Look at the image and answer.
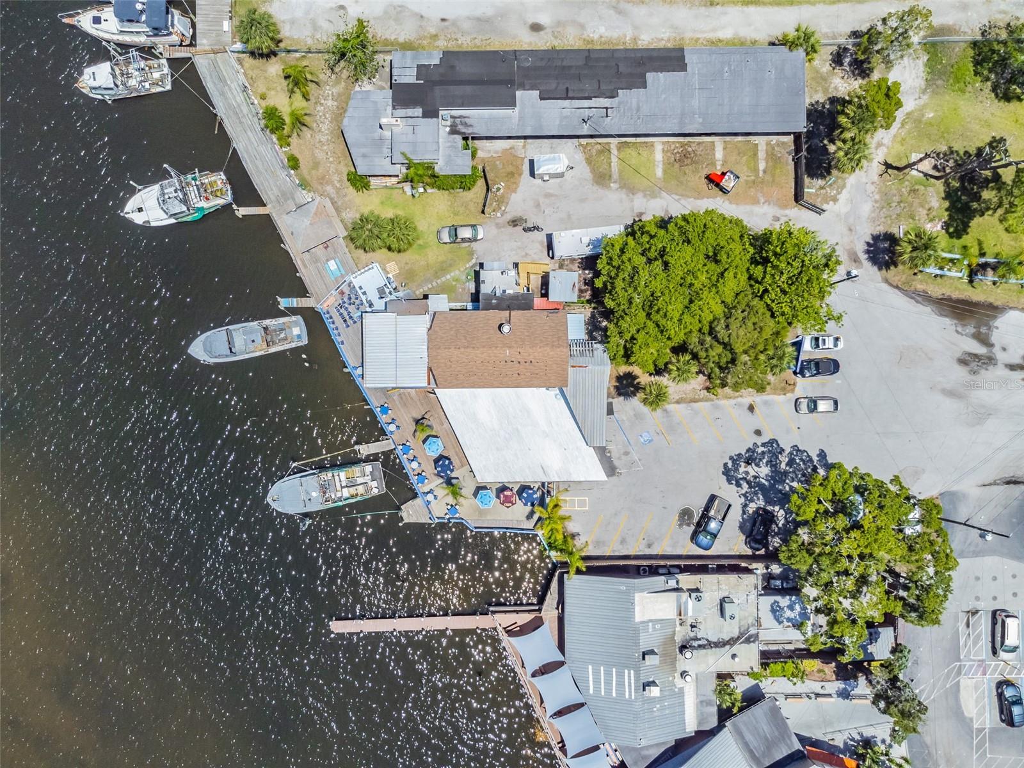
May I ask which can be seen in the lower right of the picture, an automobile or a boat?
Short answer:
automobile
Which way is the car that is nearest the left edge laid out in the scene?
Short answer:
horizontally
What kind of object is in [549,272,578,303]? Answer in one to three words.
shed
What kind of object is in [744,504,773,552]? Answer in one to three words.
car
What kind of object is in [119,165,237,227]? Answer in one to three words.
boat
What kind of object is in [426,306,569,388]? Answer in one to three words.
building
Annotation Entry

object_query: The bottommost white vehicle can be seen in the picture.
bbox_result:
[989,611,1018,658]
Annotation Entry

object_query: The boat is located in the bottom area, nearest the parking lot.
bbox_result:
[267,462,386,513]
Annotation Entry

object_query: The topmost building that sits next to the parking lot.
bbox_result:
[391,46,806,178]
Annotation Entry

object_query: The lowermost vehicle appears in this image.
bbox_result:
[994,679,1022,727]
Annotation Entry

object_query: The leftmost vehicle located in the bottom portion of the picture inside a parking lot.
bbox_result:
[692,491,729,550]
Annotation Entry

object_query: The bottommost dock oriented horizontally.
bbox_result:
[331,615,496,632]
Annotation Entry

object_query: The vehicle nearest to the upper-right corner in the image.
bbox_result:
[705,169,740,195]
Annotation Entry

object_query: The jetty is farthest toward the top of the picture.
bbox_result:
[196,0,232,49]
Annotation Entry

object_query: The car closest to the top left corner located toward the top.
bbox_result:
[437,223,484,245]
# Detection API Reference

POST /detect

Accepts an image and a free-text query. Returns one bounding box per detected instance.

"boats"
[188,315,309,364]
[75,42,177,103]
[119,165,237,227]
[267,462,386,513]
[59,0,196,51]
